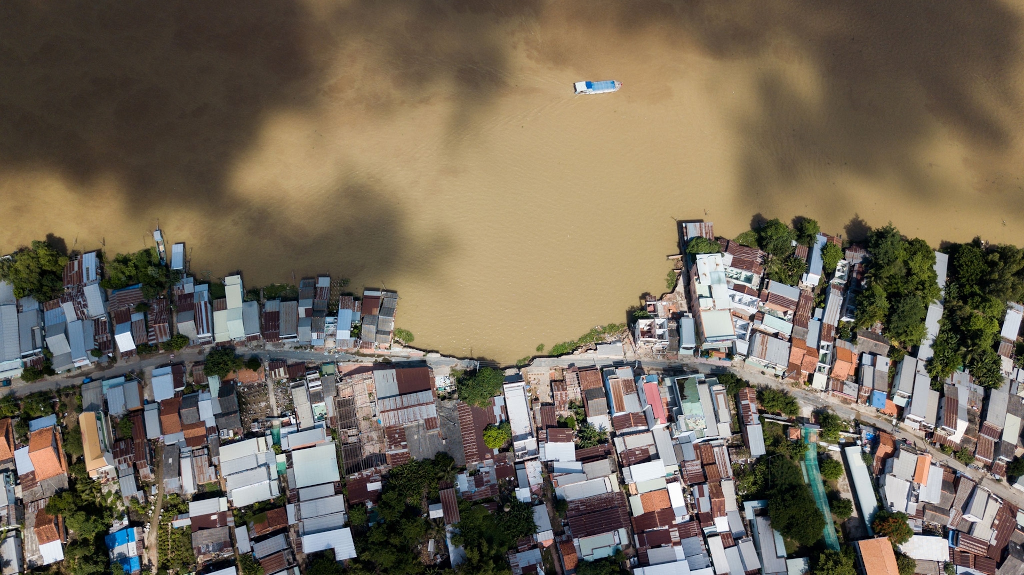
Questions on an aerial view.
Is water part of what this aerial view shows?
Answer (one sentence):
Yes, water can be seen from above here.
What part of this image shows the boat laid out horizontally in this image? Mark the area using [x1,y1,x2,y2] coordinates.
[574,80,623,95]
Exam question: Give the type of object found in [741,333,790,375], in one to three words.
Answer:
house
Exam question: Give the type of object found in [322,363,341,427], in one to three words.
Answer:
house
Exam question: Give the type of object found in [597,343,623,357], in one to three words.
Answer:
shed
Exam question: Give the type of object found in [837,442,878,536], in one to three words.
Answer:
building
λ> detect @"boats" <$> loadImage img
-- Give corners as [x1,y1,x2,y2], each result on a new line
[574,80,623,95]
[154,220,167,264]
